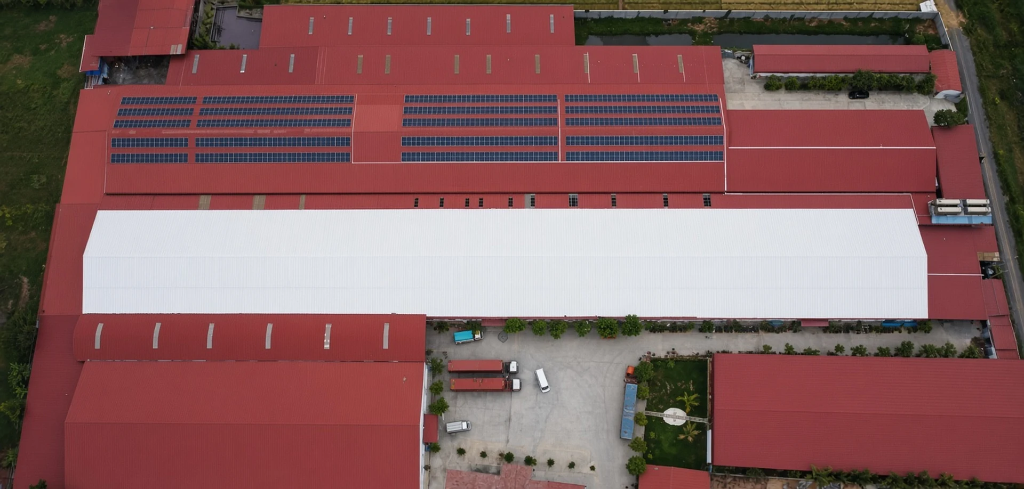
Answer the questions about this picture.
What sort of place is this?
industrial area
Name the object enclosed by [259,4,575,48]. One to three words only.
building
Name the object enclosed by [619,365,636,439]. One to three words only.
vehicle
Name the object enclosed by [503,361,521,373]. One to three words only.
vehicle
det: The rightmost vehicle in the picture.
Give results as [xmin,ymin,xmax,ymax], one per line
[986,261,1003,274]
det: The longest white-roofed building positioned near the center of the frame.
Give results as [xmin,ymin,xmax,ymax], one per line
[82,208,929,320]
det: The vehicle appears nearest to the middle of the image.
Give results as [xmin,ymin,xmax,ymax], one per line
[453,331,485,343]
